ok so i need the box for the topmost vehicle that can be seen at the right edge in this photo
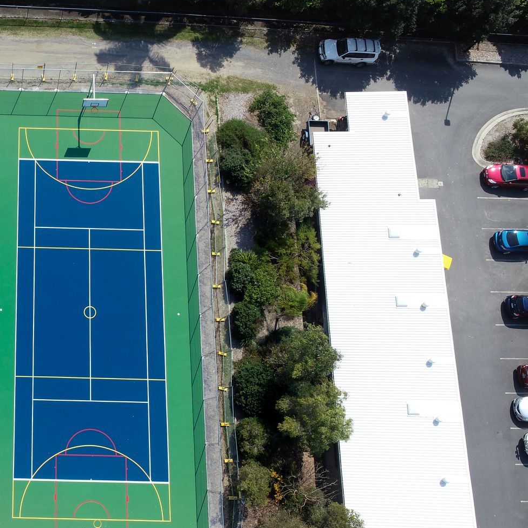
[482,160,528,189]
